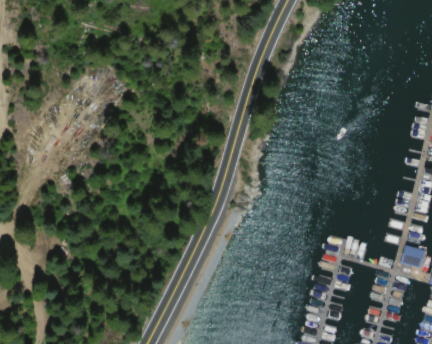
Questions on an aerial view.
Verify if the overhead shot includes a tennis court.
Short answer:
No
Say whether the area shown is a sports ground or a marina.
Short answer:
marina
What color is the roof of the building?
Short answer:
blue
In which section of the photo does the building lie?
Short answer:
bottom right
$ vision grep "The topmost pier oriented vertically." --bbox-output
[385,108,432,265]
